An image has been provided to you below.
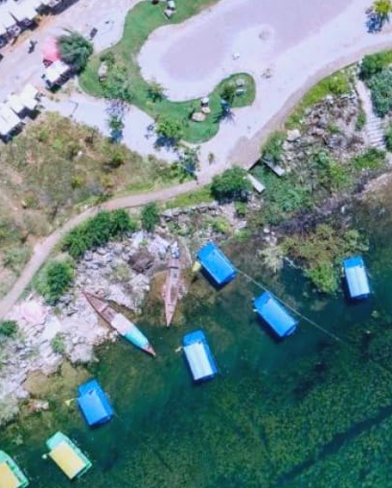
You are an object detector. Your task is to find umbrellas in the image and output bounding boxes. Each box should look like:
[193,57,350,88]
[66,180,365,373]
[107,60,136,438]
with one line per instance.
[43,42,61,60]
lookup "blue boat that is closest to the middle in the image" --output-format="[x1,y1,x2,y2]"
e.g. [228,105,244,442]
[195,242,236,285]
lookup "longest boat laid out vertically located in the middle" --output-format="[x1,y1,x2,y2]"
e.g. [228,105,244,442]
[163,237,180,329]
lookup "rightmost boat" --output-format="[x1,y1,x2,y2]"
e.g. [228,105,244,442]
[344,257,369,300]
